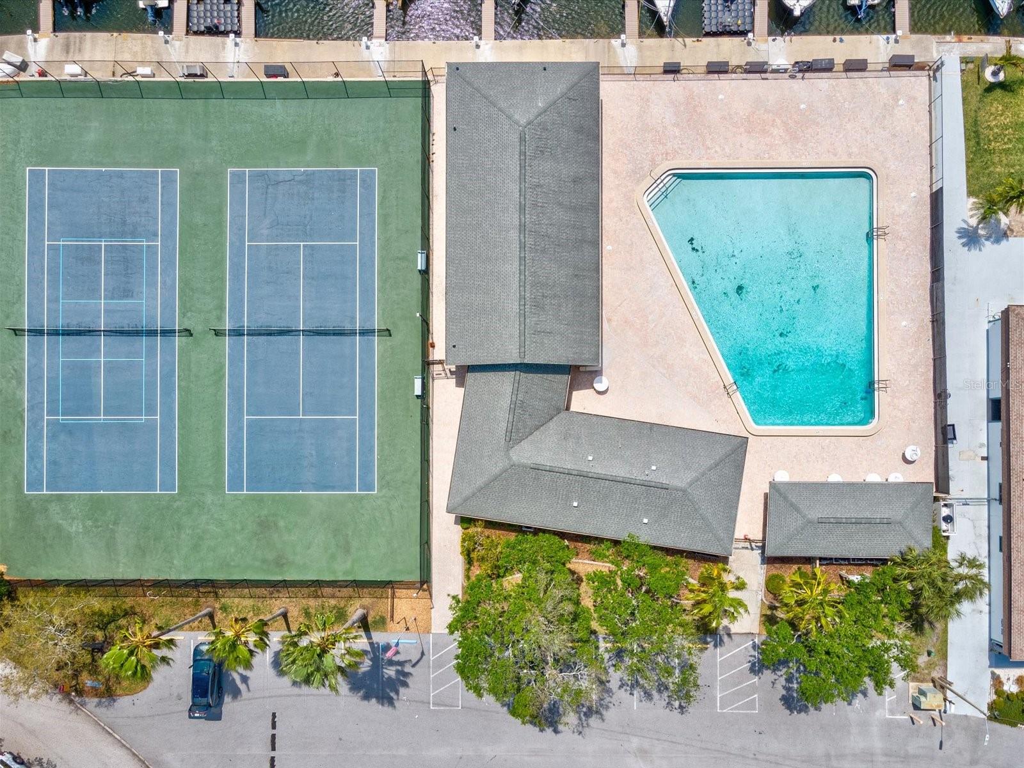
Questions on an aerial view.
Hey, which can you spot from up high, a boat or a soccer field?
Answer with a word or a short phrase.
boat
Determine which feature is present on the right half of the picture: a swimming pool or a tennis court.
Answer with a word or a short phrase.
swimming pool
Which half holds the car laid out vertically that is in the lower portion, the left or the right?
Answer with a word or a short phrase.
left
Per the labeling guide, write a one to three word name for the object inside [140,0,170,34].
boat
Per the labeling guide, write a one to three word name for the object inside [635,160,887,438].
swimming pool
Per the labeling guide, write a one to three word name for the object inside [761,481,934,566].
building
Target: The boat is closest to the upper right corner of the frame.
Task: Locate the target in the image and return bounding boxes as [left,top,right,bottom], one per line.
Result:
[988,0,1010,22]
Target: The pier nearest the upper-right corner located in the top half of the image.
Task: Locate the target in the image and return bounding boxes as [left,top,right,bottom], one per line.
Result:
[885,0,915,34]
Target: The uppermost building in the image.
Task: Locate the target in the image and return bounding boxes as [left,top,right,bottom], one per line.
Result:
[445,61,606,369]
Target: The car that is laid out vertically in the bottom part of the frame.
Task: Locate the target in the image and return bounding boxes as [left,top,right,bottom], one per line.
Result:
[187,644,222,717]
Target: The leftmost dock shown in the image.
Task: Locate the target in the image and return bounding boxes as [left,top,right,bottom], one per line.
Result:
[33,0,64,33]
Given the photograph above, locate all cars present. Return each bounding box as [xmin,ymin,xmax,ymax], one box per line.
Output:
[0,750,34,768]
[187,644,222,717]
